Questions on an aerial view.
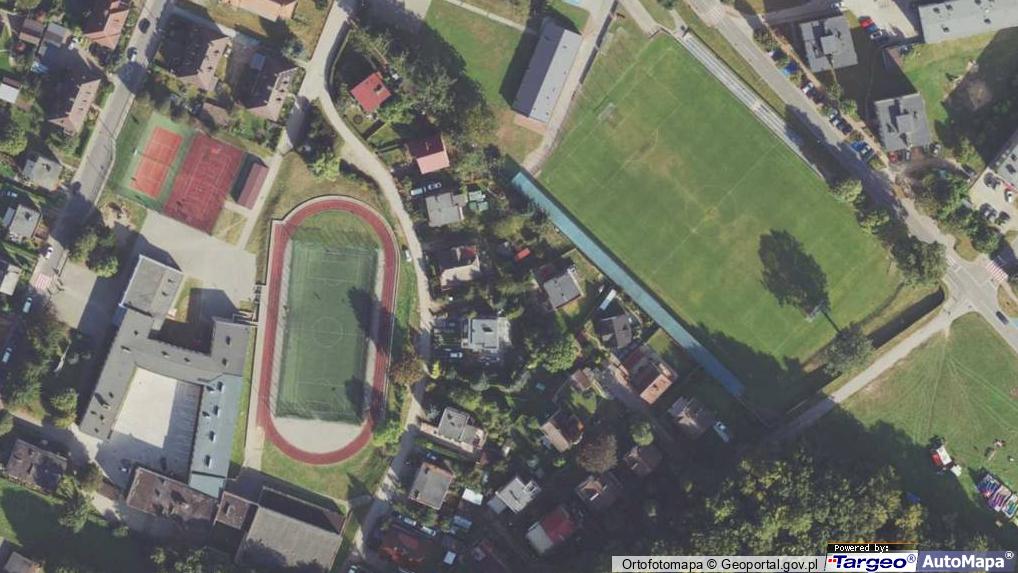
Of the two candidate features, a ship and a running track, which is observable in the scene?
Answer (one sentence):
Looking from above, you can make out a running track.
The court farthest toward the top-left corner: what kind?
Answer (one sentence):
I'd say the court farthest toward the top-left corner is a tennis court.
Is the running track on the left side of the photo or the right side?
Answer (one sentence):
You can find the running track on the left side of the picture.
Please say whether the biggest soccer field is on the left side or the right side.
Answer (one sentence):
The biggest soccer field sits on the right side.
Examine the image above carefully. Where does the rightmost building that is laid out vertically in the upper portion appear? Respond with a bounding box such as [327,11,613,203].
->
[987,124,1018,191]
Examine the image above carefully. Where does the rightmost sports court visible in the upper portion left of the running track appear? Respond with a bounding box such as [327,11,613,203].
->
[163,129,245,235]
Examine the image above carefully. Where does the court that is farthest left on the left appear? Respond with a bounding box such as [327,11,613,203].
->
[112,110,196,211]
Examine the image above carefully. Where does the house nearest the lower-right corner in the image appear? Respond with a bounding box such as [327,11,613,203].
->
[672,397,715,437]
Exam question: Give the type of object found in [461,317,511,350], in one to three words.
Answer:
house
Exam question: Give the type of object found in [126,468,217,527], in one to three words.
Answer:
building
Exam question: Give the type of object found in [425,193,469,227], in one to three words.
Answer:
house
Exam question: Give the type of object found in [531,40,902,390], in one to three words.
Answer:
soccer field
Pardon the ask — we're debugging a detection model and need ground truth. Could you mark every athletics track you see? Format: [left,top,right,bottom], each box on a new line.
[254,196,400,466]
